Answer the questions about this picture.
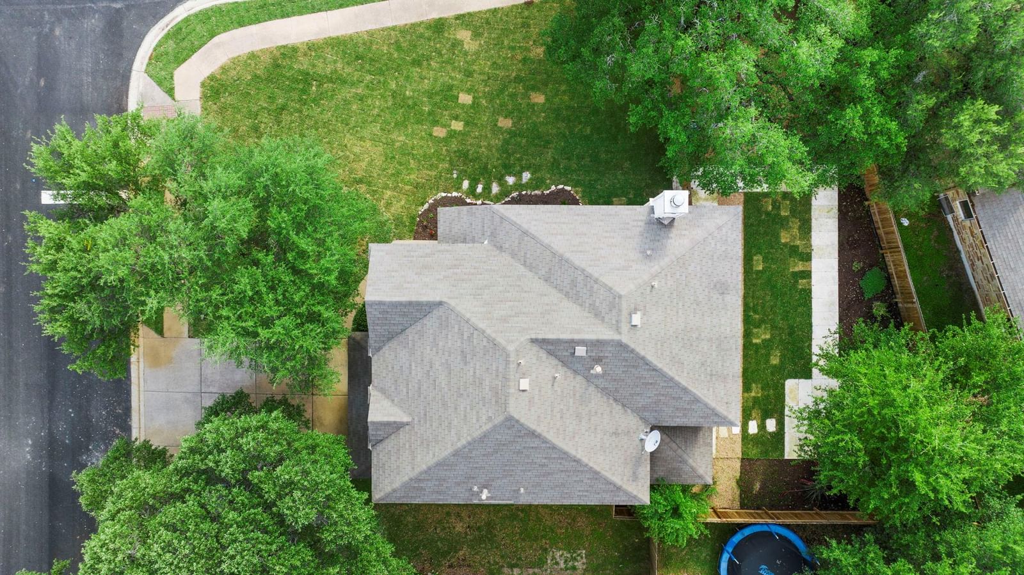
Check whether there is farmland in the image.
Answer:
No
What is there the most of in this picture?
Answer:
trees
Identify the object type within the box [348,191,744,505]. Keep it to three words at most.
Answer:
house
